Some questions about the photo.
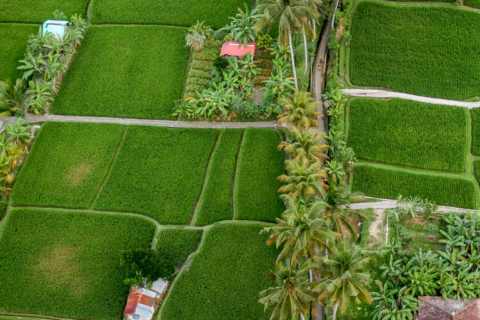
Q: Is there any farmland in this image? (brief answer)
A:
Yes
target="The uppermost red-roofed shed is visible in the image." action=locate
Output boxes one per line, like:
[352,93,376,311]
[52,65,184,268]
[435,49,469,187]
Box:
[221,41,256,65]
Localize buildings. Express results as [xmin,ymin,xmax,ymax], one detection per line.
[419,295,480,320]
[124,287,161,320]
[43,20,68,47]
[221,41,256,65]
